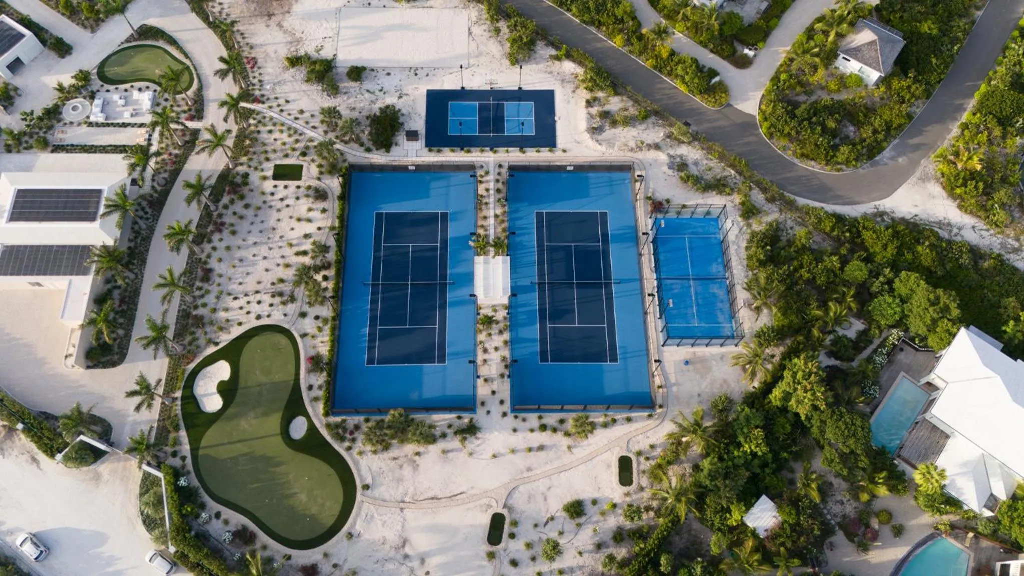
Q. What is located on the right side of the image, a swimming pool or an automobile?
swimming pool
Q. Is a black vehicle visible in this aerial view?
No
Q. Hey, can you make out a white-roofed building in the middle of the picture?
Yes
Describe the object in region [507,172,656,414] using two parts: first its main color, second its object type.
blue tennis court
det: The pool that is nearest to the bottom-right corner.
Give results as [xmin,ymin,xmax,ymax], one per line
[886,527,975,576]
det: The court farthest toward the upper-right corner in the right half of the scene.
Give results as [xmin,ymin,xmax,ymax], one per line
[647,216,739,348]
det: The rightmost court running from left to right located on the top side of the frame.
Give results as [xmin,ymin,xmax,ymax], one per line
[423,89,556,148]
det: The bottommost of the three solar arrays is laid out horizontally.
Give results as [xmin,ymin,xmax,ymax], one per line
[0,247,91,275]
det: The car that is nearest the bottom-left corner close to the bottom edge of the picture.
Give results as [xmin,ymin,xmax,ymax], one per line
[11,532,49,564]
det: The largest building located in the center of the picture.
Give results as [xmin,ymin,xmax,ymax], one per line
[474,256,511,307]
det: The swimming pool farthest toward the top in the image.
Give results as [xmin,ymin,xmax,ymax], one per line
[870,371,929,457]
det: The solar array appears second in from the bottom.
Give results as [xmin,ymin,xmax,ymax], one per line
[9,191,103,222]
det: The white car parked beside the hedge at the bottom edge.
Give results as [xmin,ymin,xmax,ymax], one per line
[141,547,177,576]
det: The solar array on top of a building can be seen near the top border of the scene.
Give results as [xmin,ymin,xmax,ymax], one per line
[0,22,25,55]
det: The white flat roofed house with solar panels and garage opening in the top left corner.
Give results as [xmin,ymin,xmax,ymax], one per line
[0,12,42,78]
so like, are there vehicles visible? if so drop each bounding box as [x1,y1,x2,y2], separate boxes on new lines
[141,547,177,576]
[11,532,49,564]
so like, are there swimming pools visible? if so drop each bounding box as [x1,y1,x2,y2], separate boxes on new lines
[870,371,929,457]
[886,527,975,576]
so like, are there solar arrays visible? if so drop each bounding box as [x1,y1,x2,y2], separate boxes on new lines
[0,247,91,275]
[9,191,103,222]
[0,22,25,55]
